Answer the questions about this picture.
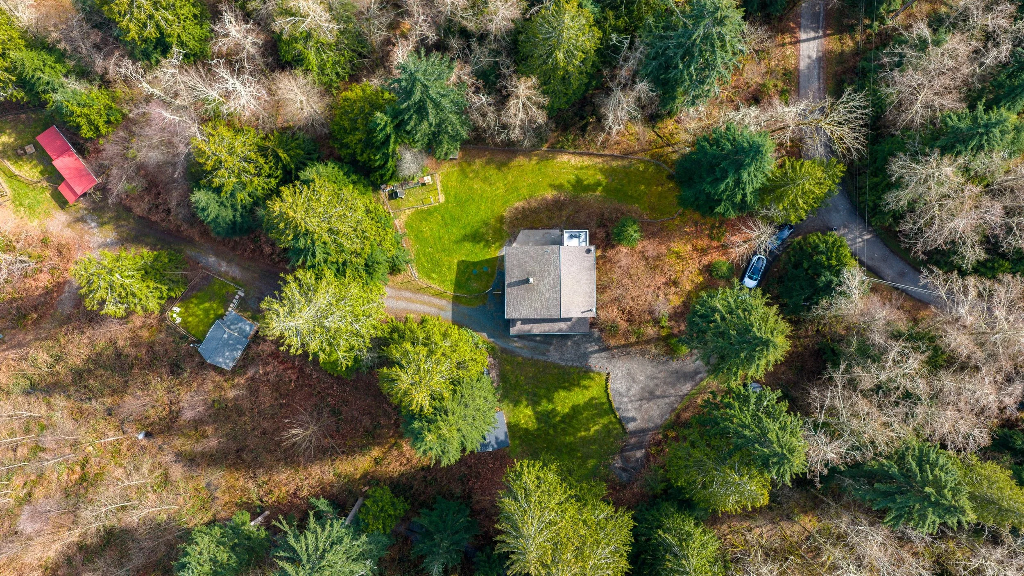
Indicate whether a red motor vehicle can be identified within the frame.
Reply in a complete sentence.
No, no red motor vehicle can be seen from above.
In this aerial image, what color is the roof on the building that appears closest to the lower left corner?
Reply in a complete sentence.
The roof over the building that appears closest to the lower left corner appears blue.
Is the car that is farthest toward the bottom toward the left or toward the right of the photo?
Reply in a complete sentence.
You can find the car that is farthest toward the bottom on the right side of the picture.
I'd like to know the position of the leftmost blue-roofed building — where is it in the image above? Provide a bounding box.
[198,319,254,371]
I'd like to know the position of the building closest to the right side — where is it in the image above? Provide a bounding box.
[504,244,596,334]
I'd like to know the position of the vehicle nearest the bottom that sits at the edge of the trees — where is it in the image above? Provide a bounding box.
[741,253,767,289]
